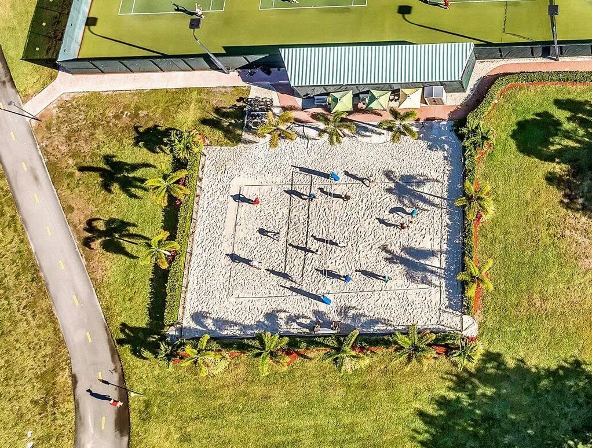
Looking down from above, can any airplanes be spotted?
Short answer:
No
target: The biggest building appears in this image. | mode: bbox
[279,43,477,97]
